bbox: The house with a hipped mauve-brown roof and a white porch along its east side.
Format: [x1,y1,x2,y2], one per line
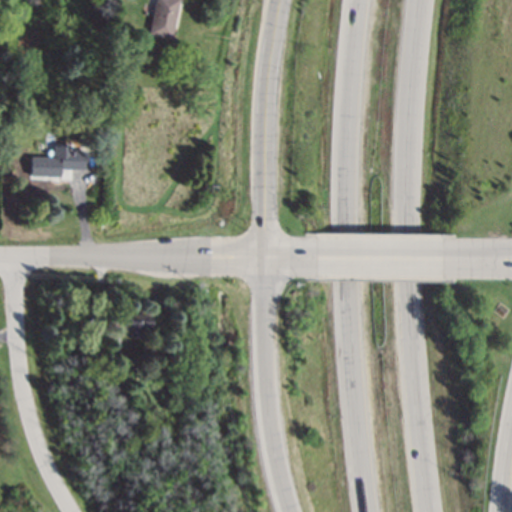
[152,0,186,36]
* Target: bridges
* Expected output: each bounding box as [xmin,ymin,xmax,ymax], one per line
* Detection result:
[306,234,455,281]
